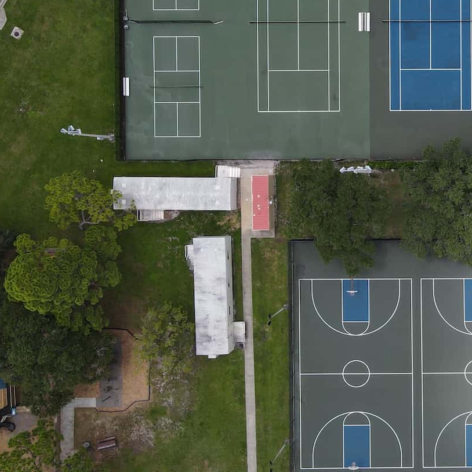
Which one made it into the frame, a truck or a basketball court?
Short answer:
basketball court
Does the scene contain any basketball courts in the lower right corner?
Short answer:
Yes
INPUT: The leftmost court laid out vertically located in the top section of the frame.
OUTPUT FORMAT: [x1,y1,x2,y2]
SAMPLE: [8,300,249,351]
[154,36,200,137]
